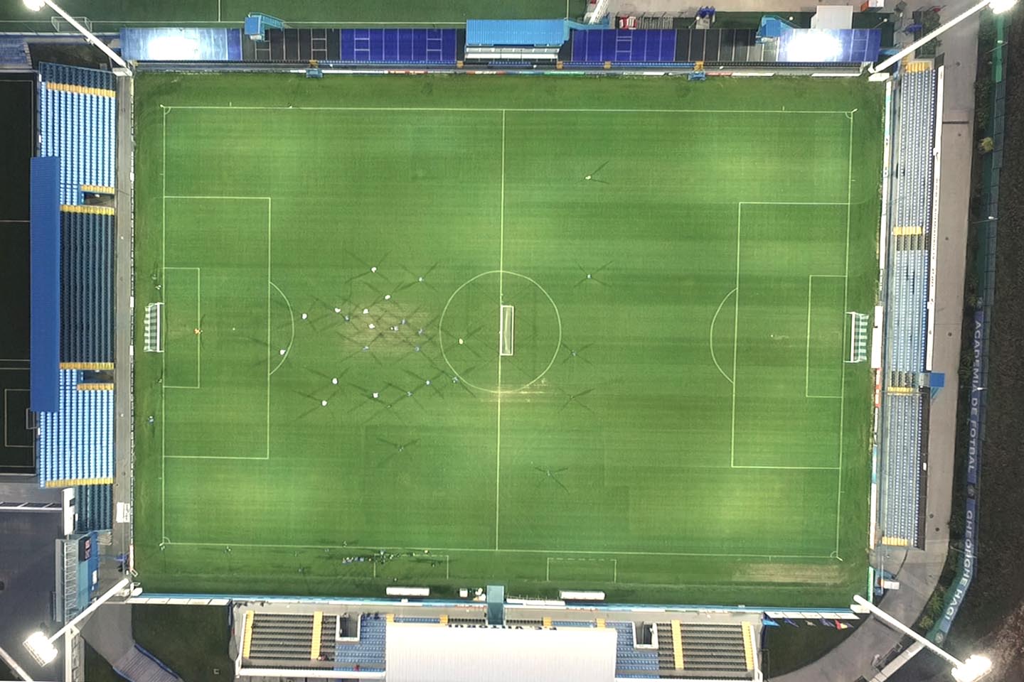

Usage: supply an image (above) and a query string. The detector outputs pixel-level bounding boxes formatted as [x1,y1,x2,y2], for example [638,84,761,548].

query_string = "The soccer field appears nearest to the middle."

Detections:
[133,75,883,612]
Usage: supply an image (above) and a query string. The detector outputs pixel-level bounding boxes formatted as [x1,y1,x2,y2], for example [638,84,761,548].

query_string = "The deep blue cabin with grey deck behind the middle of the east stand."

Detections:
[916,372,945,391]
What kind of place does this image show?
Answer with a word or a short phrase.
sports ground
